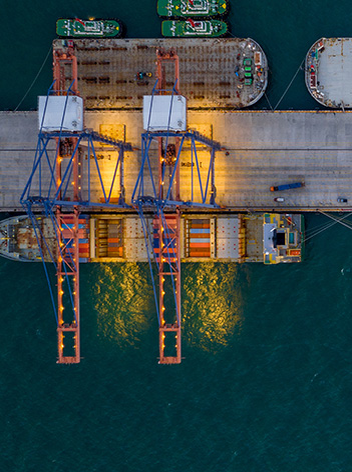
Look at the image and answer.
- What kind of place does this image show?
port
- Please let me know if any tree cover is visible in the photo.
No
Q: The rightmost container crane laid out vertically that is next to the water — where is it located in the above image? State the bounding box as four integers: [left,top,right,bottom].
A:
[130,53,222,365]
